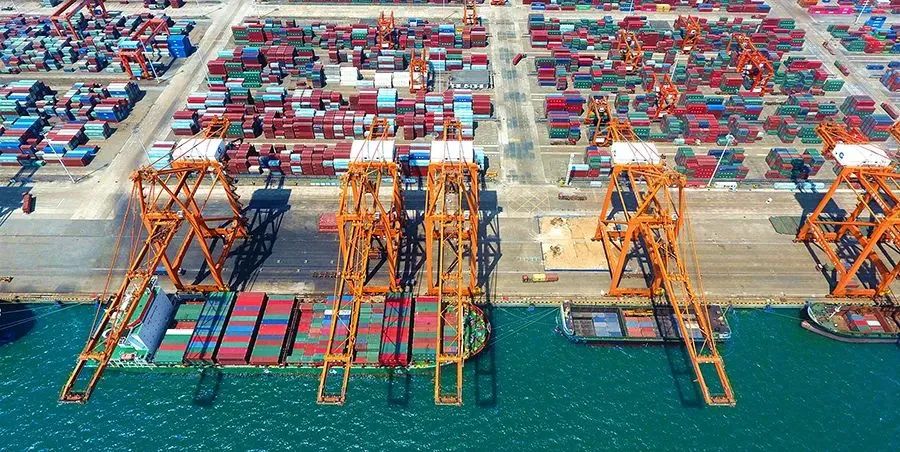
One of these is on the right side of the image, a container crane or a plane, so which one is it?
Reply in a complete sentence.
What appears on the right side of the image is a container crane.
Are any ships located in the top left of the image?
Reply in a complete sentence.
No, looking in the top left of the image, there is no ship.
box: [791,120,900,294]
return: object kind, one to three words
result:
container crane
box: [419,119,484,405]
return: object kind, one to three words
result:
container crane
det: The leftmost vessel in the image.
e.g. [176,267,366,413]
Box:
[0,305,28,348]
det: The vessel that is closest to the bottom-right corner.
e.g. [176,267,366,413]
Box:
[801,301,900,346]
